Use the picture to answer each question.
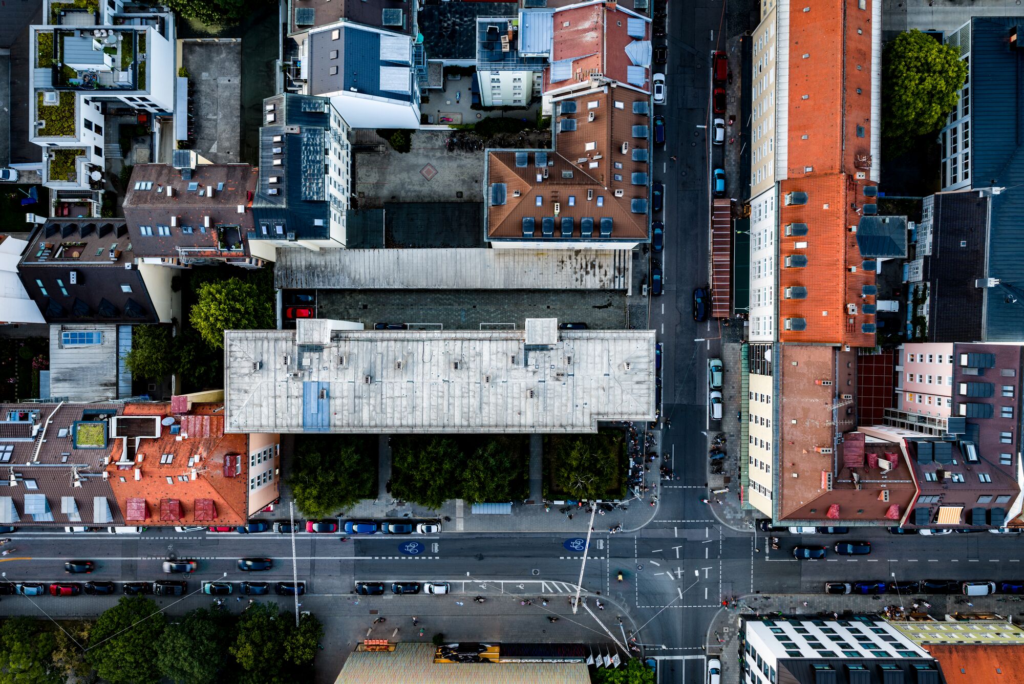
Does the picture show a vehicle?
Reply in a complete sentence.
Yes, there's a vehicle here.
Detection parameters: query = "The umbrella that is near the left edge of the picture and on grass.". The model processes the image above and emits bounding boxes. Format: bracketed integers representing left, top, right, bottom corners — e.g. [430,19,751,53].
[23,188,41,207]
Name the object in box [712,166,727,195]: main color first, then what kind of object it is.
blue car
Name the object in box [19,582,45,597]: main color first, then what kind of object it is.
blue car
